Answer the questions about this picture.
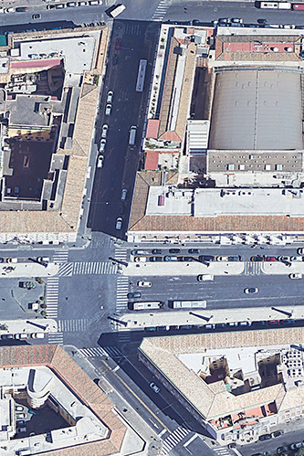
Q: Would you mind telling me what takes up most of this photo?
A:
buildings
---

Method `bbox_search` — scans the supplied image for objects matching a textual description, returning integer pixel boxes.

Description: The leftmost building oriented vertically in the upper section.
[0,28,111,242]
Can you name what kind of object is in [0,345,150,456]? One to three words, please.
building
